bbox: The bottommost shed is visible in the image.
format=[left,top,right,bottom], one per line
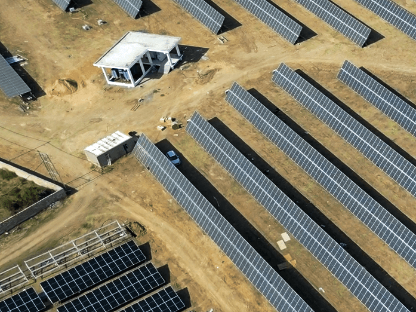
[84,130,134,168]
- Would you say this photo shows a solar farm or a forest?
solar farm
